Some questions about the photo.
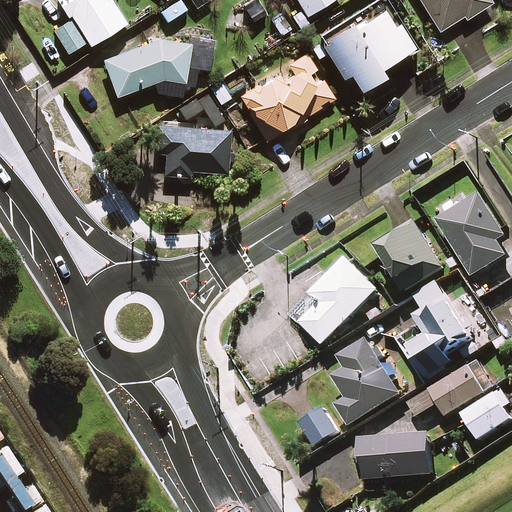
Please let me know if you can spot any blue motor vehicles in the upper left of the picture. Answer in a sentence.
Yes, a blue motor vehicle appears in the upper left of the picture.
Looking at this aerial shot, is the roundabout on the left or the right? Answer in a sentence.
The roundabout is on the left side of the image.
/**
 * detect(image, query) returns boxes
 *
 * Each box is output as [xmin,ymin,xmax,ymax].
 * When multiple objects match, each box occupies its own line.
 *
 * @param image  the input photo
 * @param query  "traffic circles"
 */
[94,281,176,362]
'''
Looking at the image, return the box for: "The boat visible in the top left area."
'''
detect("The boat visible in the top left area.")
[44,36,58,60]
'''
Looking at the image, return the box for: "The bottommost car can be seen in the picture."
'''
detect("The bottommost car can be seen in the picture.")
[148,398,166,422]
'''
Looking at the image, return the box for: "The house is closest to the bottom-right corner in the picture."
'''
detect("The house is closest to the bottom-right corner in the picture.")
[458,388,512,440]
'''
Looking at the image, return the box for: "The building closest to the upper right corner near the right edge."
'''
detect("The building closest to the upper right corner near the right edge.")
[421,0,494,32]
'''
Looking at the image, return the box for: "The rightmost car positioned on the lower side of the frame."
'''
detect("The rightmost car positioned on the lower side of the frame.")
[365,322,385,338]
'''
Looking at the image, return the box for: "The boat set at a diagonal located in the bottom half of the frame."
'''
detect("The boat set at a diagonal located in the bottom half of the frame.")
[498,321,512,337]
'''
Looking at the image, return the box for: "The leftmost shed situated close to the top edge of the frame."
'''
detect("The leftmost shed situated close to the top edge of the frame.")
[54,21,86,54]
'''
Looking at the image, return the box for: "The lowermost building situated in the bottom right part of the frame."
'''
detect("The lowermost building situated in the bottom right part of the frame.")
[354,430,435,480]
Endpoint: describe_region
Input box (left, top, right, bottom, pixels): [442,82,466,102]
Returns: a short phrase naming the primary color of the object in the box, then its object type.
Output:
black car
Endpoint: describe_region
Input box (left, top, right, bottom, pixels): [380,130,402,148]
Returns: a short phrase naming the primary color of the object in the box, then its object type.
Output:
white car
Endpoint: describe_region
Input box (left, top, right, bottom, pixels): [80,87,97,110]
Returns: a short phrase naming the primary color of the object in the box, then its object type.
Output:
blue car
